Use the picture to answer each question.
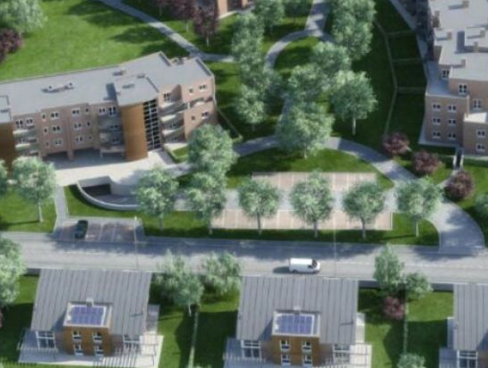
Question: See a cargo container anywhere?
No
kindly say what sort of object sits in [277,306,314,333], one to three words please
solar panel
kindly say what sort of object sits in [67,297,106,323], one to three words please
solar panel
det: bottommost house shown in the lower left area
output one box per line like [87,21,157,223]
[30,267,150,353]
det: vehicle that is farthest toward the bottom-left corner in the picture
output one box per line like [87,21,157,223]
[76,219,88,237]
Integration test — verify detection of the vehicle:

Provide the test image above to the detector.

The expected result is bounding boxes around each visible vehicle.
[76,219,88,237]
[290,256,321,276]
